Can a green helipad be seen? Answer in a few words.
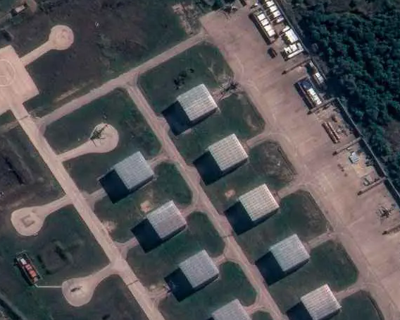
No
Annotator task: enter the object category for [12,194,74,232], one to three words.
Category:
helipad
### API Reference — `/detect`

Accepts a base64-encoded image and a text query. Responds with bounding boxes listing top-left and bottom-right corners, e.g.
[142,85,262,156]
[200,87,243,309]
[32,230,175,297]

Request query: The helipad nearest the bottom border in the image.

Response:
[64,263,119,303]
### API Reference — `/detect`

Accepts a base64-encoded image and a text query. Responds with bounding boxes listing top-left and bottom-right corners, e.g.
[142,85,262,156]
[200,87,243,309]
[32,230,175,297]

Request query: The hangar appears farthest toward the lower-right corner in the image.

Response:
[302,285,340,320]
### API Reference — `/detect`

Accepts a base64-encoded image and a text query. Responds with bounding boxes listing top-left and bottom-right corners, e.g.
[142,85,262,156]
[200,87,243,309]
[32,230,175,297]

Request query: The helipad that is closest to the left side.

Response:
[0,45,37,114]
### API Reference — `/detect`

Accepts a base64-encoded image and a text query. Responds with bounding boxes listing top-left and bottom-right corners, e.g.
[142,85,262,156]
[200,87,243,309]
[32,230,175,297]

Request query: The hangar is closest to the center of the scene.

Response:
[209,134,248,174]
